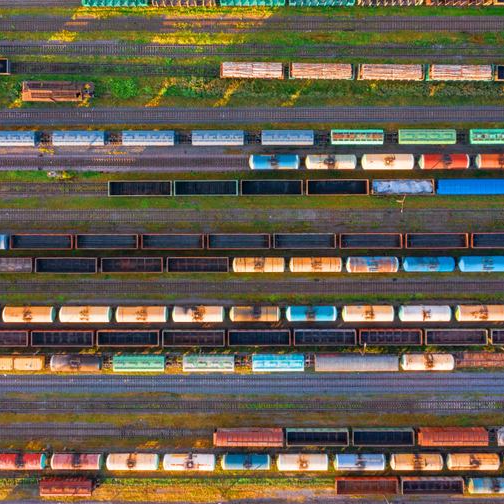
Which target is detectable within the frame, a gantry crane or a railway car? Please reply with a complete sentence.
It is a railway car that can be seen here.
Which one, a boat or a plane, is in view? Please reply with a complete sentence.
Visible in the photo is a boat.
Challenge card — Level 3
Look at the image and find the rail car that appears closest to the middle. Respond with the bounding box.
[230,255,287,272]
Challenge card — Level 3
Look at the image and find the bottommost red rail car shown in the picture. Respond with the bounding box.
[39,476,97,496]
